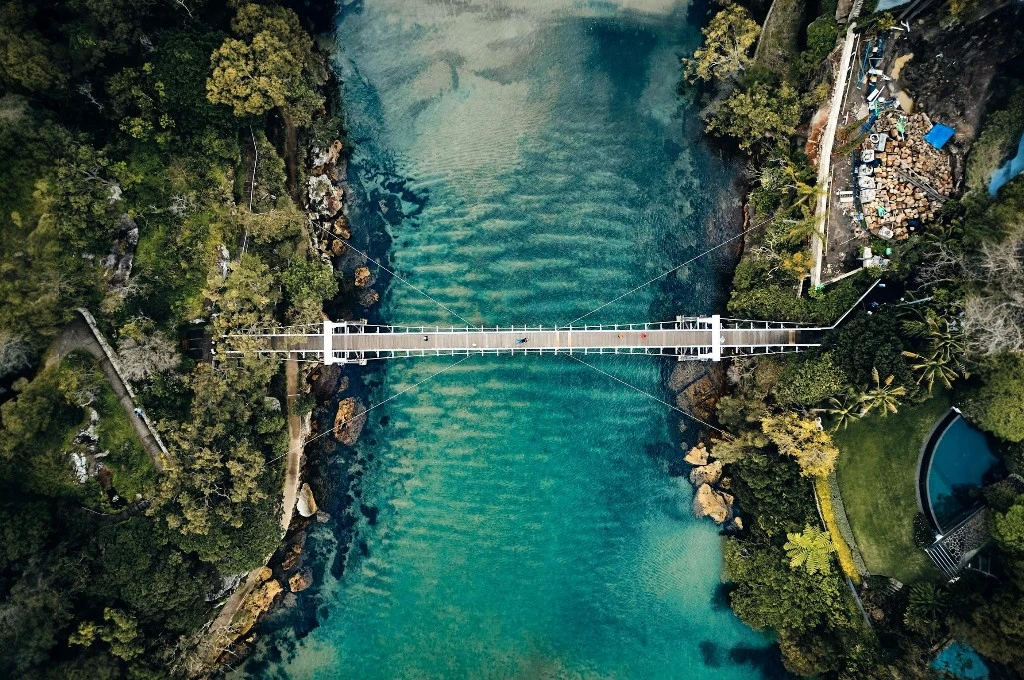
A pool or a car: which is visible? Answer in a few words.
pool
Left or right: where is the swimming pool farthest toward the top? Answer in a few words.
right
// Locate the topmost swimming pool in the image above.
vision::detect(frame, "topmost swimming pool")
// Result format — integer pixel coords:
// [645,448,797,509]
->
[911,404,1013,539]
